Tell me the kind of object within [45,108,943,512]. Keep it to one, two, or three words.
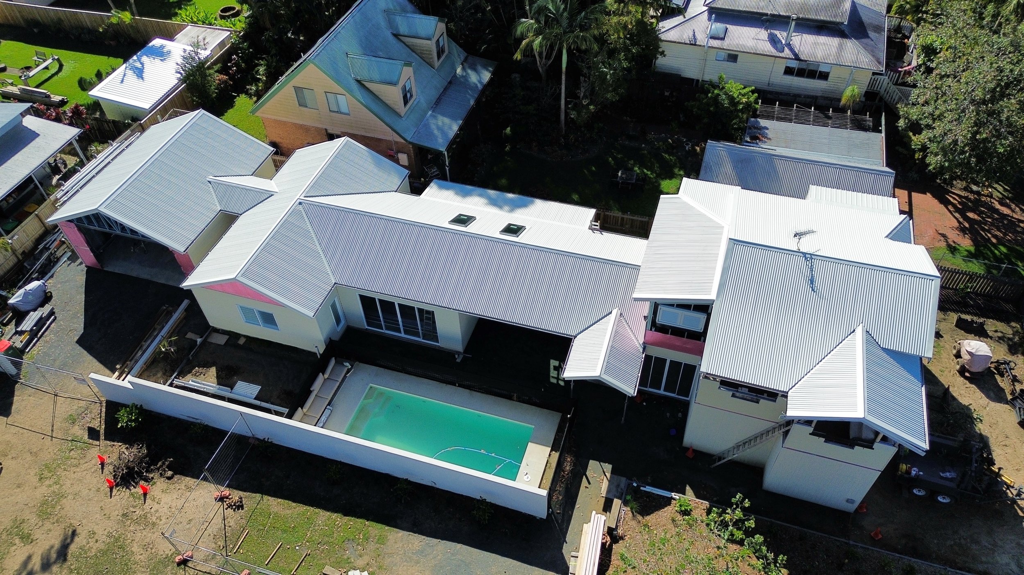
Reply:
house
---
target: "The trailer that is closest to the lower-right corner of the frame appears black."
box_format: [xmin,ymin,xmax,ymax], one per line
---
[888,438,1024,508]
